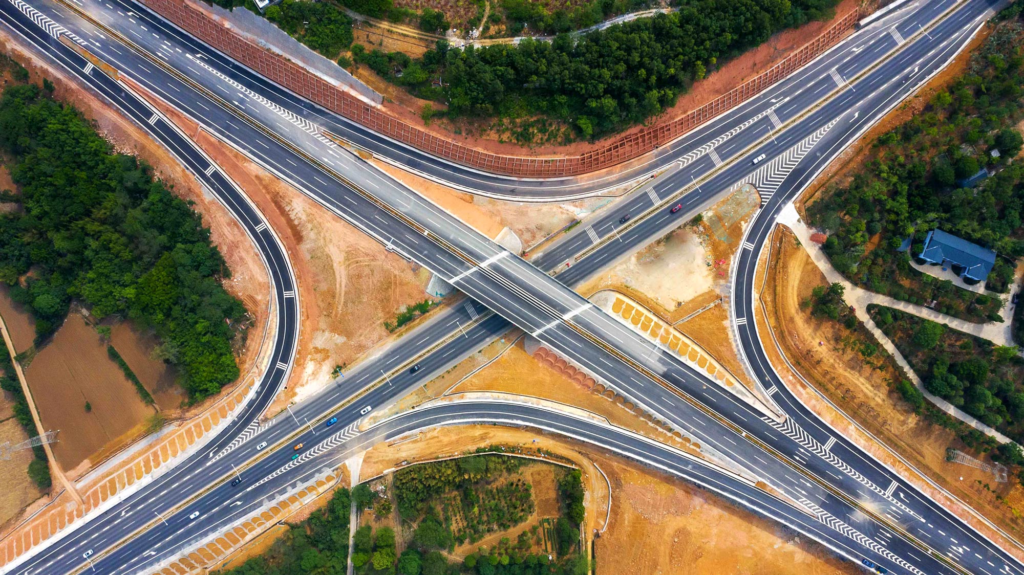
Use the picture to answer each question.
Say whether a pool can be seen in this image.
No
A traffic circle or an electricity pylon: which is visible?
electricity pylon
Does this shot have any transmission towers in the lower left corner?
Yes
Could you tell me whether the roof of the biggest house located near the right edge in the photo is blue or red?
blue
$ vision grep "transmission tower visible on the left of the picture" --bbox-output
[1,428,61,458]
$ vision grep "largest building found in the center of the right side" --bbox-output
[923,228,998,285]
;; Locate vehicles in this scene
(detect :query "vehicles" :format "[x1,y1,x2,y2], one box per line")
[327,417,338,426]
[874,565,888,575]
[409,365,420,373]
[618,214,631,224]
[189,511,199,519]
[671,204,681,212]
[361,406,371,414]
[294,443,304,451]
[257,441,267,450]
[84,550,94,558]
[1011,292,1020,305]
[231,478,242,487]
[753,154,765,164]
[862,559,874,568]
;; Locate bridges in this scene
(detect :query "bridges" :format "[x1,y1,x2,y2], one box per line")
[456,236,587,350]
